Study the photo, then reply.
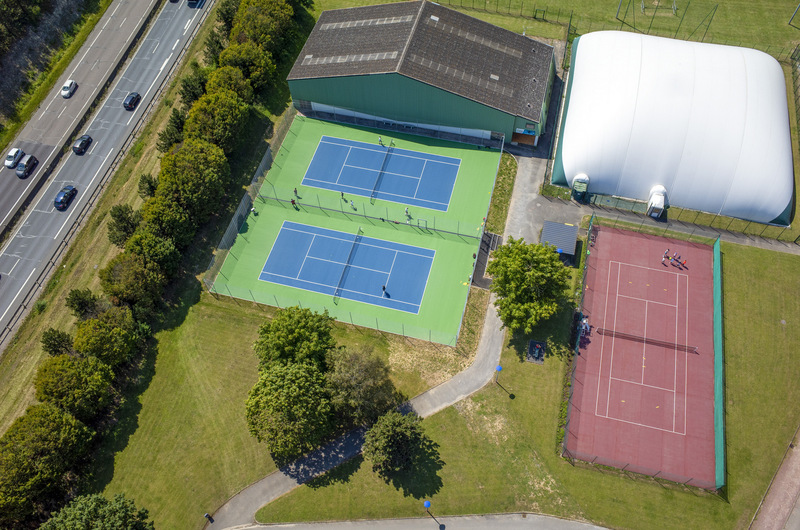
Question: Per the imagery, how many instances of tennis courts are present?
3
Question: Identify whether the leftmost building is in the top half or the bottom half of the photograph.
top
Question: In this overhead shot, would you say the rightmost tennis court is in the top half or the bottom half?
bottom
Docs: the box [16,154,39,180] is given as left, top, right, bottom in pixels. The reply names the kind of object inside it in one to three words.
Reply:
car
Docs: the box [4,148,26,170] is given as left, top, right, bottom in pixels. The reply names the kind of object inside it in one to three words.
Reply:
car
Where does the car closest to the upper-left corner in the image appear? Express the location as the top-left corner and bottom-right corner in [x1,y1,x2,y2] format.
[60,81,77,98]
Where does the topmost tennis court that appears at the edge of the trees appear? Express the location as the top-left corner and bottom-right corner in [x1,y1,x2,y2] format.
[256,116,500,240]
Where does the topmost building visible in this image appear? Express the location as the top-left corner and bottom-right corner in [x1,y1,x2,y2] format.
[286,0,556,148]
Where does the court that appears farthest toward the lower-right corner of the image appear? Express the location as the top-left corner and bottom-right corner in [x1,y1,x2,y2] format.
[565,224,722,493]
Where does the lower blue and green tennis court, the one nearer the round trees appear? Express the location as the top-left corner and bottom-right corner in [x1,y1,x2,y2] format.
[213,199,480,345]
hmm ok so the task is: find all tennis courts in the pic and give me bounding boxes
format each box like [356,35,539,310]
[213,199,480,345]
[565,224,722,493]
[256,116,500,240]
